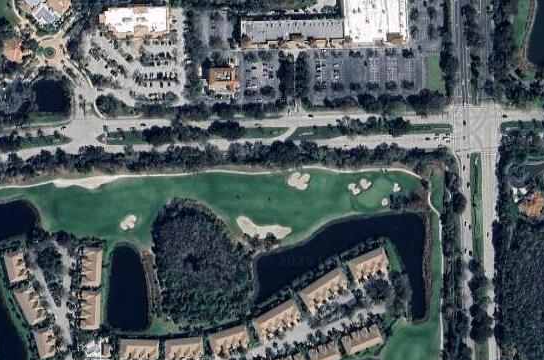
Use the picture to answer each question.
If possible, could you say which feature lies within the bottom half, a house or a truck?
house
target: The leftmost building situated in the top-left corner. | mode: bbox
[1,36,27,61]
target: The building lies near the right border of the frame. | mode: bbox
[518,189,544,218]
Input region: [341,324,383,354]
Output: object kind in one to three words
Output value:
house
